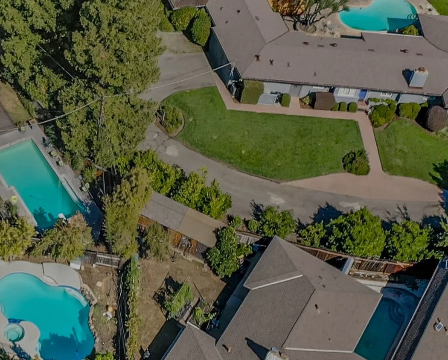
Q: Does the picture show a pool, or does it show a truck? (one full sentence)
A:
It is a pool that can be seen here.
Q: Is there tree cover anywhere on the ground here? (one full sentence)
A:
Yes, tree cover shows up in the scene.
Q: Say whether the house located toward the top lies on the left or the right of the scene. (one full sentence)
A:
The house located toward the top sits on the right side.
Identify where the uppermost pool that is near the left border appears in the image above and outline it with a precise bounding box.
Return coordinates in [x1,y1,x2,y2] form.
[0,138,83,235]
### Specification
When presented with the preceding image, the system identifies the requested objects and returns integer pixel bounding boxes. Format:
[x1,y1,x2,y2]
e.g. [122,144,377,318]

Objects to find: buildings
[164,236,383,360]
[141,194,226,262]
[200,0,448,124]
